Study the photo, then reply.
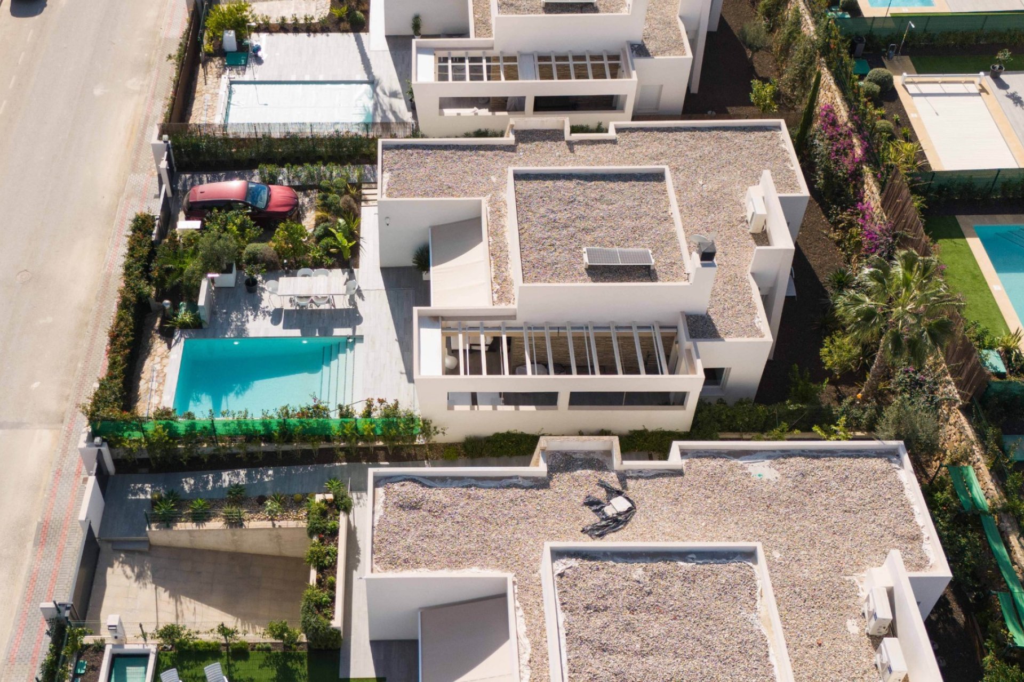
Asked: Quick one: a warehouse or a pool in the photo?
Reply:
pool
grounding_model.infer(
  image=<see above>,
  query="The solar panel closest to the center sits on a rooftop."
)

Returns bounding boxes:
[583,246,656,273]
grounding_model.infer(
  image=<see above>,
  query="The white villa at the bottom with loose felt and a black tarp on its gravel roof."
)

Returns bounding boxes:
[363,436,949,682]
